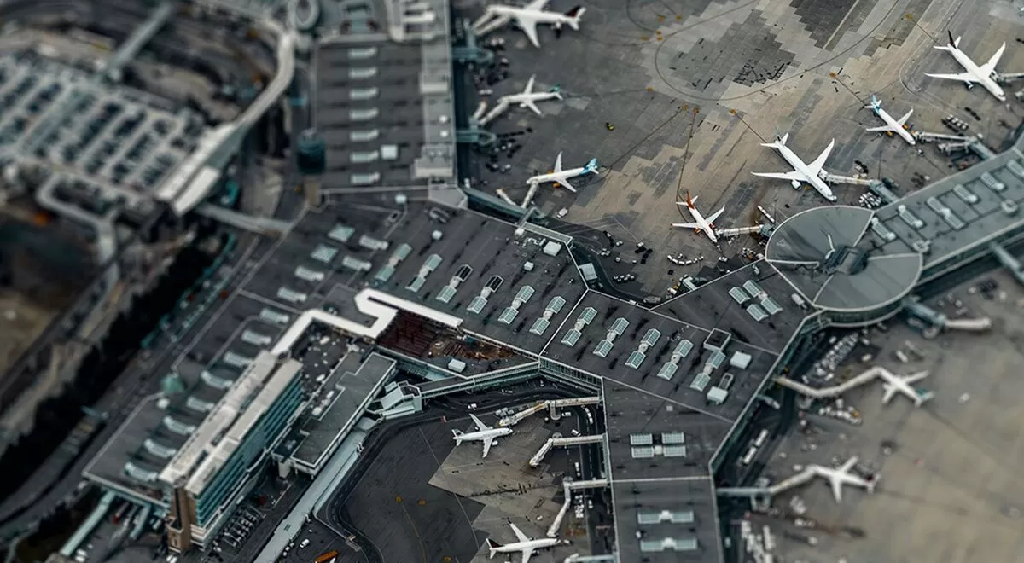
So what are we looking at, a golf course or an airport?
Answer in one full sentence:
The area seen from above is an airport.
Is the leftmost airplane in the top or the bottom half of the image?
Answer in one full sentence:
It is in the bottom half that the leftmost airplane appears.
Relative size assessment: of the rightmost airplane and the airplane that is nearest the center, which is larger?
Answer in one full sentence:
Compared with the airplane that is nearest the center, the rightmost airplane is the larger one.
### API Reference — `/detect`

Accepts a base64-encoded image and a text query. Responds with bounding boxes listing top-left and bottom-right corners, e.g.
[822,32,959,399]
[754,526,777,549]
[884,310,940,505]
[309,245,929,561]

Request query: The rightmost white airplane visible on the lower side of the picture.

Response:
[876,370,929,410]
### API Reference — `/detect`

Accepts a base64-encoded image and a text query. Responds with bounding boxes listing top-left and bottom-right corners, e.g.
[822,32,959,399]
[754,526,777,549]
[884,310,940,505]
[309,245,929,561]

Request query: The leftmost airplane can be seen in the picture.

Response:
[449,411,513,457]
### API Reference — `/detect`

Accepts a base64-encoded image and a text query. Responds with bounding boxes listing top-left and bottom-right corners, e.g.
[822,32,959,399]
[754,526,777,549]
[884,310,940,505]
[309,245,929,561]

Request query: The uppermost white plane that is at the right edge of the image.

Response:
[926,36,1006,102]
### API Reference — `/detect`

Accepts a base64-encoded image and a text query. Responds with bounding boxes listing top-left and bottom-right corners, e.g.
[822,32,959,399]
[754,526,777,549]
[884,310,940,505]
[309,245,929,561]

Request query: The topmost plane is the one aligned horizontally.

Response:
[490,0,582,42]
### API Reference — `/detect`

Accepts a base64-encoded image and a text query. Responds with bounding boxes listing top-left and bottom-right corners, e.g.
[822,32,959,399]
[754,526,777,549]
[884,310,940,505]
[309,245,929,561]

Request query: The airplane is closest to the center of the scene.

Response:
[540,151,599,194]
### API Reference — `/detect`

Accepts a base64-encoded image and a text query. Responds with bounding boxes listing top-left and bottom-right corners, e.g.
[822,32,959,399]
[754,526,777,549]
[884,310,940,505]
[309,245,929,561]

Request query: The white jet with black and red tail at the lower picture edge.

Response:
[486,519,561,563]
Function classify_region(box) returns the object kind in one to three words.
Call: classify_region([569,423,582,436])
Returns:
vehicle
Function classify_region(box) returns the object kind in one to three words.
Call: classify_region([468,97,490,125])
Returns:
jet bridge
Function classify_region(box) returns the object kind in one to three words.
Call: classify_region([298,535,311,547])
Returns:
vehicle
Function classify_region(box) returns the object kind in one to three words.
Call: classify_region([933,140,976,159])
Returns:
jet bridge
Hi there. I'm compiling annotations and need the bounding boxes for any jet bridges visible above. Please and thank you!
[713,224,771,244]
[518,177,541,211]
[940,319,997,337]
[470,98,513,138]
[467,12,517,42]
[466,9,501,54]
[820,173,878,189]
[544,478,609,541]
[912,131,996,156]
[524,433,605,471]
[560,553,616,563]
[933,140,976,159]
[991,71,1024,87]
[494,393,602,431]
[759,465,820,499]
[468,97,490,125]
[771,366,886,404]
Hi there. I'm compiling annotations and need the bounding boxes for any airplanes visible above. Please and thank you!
[490,0,582,42]
[876,370,929,410]
[754,132,837,201]
[486,519,561,563]
[926,36,1006,102]
[670,201,724,244]
[815,457,876,500]
[864,100,915,145]
[540,151,599,194]
[497,74,563,116]
[449,411,513,457]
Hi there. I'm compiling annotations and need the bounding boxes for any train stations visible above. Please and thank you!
[159,107,254,226]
